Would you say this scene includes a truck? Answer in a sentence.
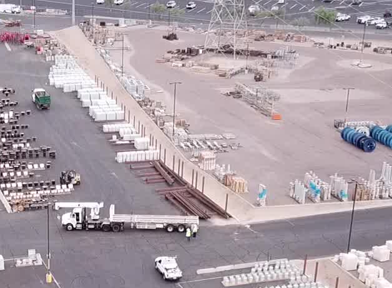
Yes, there's a truck here.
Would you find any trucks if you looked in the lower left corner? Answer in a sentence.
Yes, a truck is visible in the lower left corner.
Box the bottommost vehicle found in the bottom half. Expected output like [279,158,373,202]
[152,252,187,279]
